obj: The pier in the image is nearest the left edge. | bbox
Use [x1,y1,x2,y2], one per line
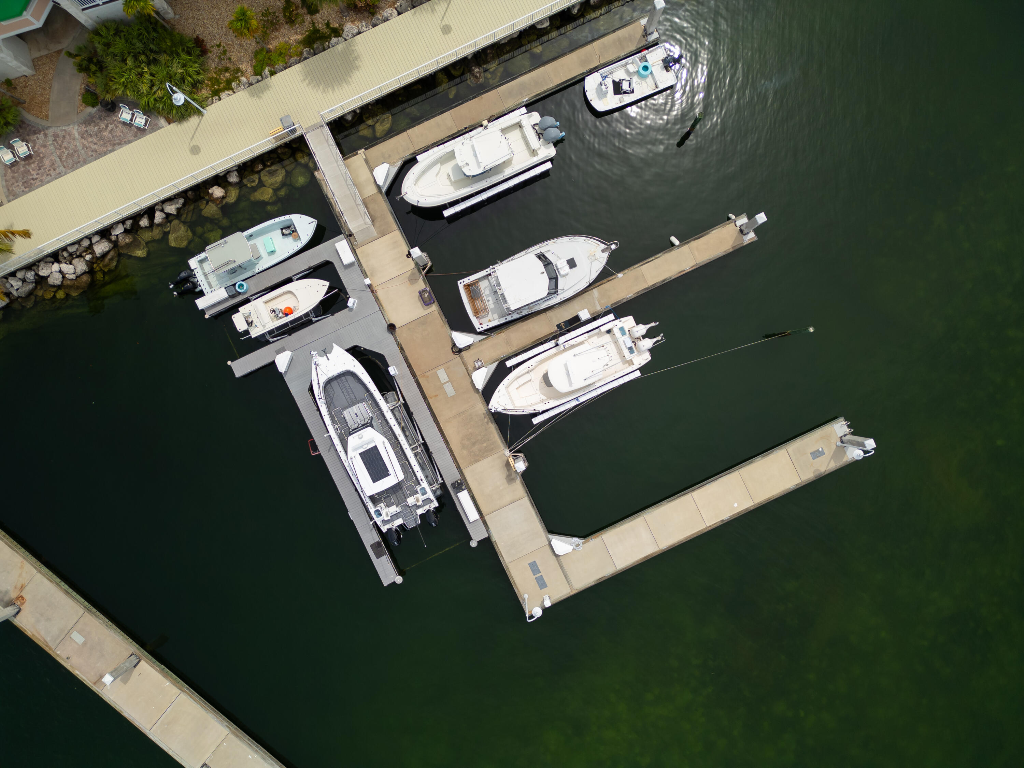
[0,525,292,768]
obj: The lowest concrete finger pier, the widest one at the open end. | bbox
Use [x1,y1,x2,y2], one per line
[560,416,857,593]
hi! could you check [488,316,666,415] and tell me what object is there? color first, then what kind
white boat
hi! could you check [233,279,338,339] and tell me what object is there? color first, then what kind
white boat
